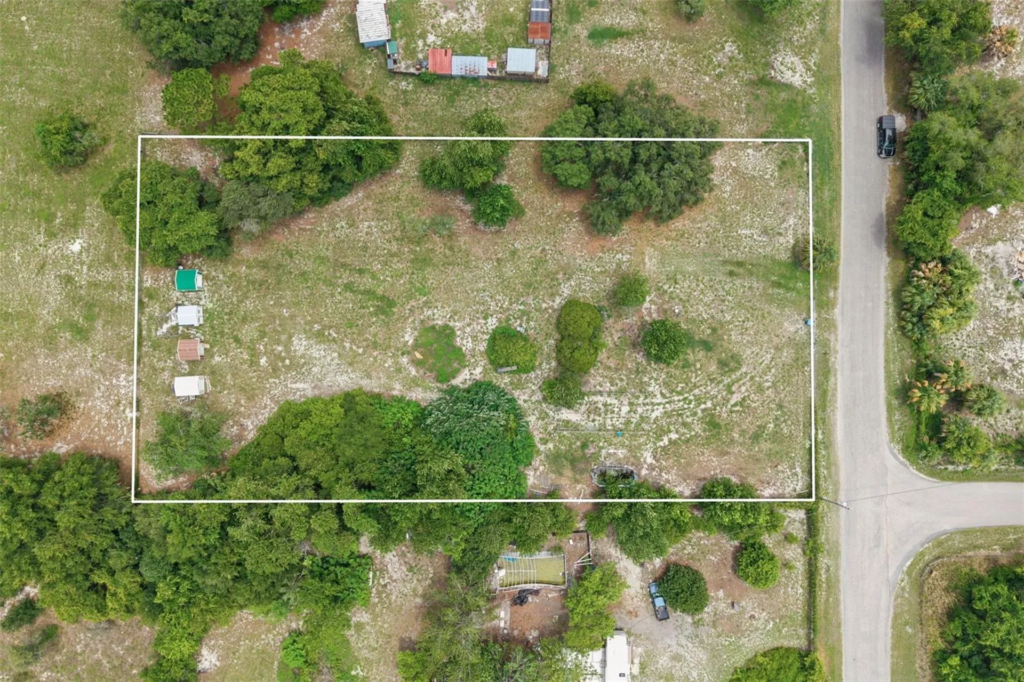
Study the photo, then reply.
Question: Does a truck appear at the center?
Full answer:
No, I can find no truck at the center.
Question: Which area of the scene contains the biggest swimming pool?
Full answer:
The biggest swimming pool is in the bottom part of the image.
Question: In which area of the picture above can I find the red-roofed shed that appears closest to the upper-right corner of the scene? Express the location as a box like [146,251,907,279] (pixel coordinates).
[529,22,552,45]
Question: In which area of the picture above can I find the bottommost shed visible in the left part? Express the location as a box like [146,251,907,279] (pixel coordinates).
[174,376,211,397]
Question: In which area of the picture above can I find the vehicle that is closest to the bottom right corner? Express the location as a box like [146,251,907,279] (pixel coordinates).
[645,579,674,623]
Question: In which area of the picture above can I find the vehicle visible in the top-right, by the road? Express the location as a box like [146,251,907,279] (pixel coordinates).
[875,115,897,159]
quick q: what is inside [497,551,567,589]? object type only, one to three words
swimming pool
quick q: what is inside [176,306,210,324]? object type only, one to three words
shed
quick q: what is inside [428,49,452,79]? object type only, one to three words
shed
